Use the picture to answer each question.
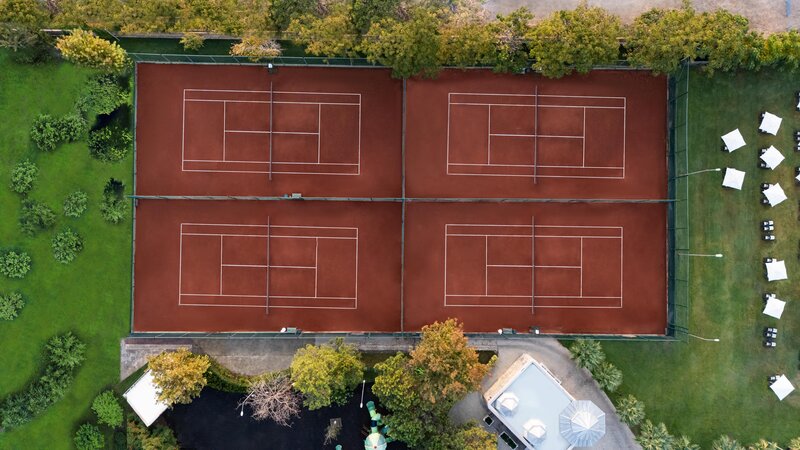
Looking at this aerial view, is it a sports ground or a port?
sports ground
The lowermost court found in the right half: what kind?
tennis court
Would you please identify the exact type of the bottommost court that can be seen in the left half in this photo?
tennis court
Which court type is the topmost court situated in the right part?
tennis court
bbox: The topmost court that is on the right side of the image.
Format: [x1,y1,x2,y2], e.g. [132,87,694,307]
[405,66,667,200]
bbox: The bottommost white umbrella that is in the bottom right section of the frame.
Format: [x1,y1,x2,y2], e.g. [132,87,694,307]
[768,375,795,400]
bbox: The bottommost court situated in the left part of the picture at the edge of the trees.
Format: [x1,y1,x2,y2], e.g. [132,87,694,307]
[134,198,402,332]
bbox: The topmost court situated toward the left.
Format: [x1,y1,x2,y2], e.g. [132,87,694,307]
[136,64,403,198]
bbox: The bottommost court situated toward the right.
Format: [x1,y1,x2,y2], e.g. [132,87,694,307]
[403,201,667,334]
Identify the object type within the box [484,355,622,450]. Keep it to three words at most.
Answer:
building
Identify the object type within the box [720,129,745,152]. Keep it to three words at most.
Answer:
umbrella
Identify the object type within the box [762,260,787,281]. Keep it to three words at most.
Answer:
umbrella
